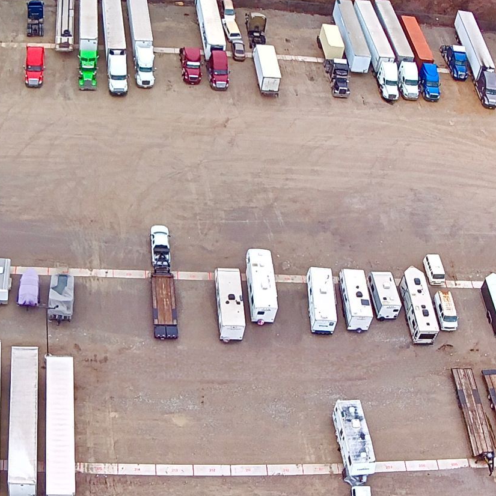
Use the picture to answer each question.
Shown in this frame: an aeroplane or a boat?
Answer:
boat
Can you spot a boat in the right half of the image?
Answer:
No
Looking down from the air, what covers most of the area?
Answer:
paved ground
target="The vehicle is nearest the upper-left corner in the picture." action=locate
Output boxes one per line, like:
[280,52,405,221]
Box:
[25,0,45,33]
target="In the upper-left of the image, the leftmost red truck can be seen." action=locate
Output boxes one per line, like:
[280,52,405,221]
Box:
[23,45,45,85]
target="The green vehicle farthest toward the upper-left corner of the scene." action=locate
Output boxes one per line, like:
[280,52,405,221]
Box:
[78,51,99,89]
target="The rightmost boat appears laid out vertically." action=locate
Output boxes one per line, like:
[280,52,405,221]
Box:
[48,273,74,331]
